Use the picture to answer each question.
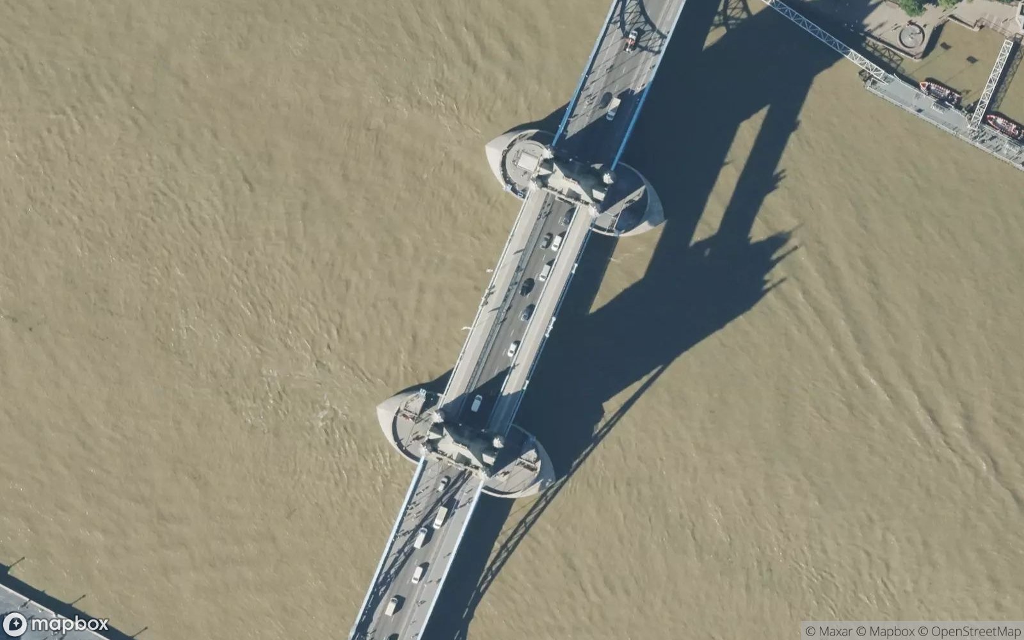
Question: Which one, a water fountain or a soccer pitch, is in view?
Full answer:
Looking from above, you can make out a water fountain.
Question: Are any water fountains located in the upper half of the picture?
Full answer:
Yes, a water fountain appears in the upper half of the picture.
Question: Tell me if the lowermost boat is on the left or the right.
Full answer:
You can find the lowermost boat on the right side of the picture.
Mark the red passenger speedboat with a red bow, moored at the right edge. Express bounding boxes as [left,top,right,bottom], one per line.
[986,114,1024,142]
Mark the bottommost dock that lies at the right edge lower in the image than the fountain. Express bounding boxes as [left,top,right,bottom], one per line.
[867,72,1024,168]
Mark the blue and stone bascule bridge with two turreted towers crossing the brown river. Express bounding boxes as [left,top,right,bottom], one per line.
[346,0,691,640]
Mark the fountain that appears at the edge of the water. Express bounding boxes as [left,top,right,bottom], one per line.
[895,19,929,53]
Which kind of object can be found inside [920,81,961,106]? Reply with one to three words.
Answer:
boat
